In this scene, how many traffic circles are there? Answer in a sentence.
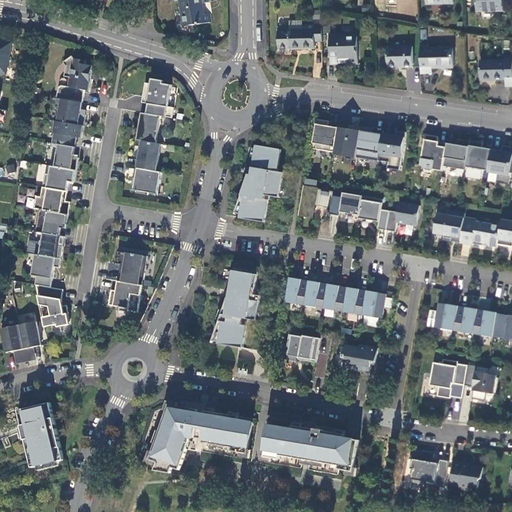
There are 2 traffic circles in the image.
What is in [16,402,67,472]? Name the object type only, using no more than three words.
building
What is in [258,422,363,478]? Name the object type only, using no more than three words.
building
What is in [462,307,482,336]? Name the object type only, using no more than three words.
house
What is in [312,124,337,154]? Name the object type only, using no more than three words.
house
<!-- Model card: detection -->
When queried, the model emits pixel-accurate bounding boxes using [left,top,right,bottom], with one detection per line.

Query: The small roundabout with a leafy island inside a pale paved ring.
[108,343,160,395]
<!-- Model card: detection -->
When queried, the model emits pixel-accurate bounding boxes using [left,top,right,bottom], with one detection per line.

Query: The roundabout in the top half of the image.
[205,64,267,126]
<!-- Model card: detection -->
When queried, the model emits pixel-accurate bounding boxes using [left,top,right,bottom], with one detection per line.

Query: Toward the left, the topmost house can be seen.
[180,0,213,28]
